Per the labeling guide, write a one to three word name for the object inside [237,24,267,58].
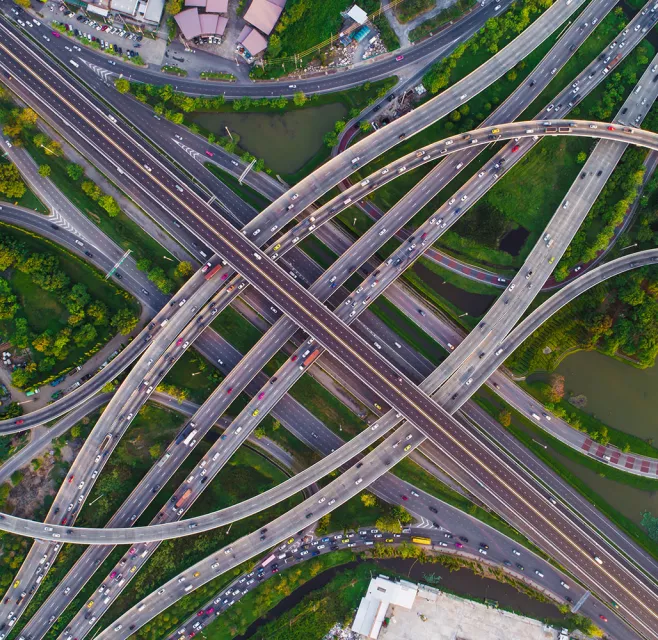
house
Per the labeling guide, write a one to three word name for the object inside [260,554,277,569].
vehicle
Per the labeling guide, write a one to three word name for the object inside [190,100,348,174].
pond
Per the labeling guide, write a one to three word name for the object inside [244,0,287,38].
house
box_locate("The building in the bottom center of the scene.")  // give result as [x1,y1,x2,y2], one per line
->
[351,572,418,640]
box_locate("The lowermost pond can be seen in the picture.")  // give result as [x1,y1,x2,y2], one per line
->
[526,351,658,447]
